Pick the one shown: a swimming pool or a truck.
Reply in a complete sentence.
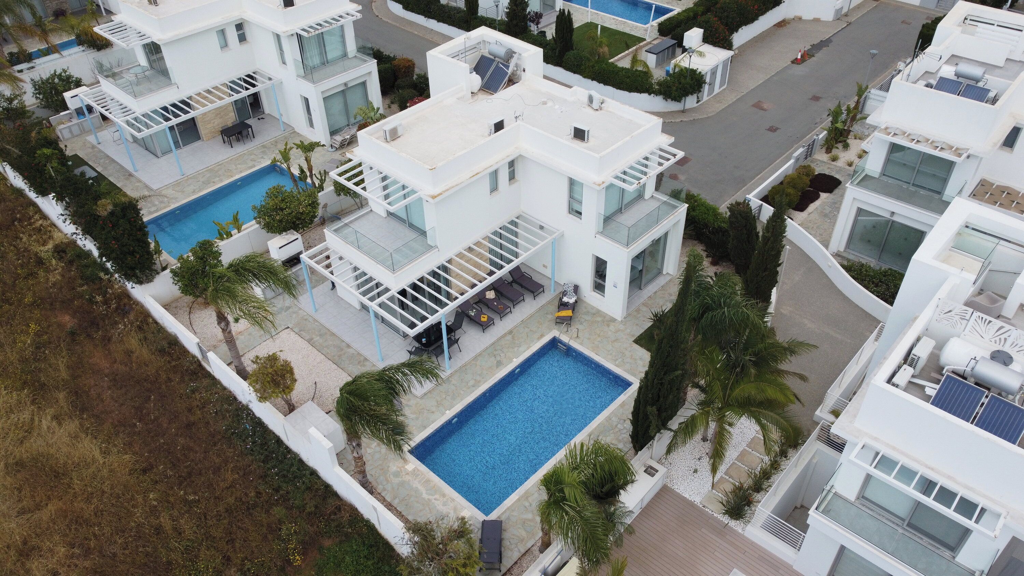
I can see a swimming pool in this picture.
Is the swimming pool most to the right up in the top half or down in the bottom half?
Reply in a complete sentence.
You can find the swimming pool most to the right in the top half.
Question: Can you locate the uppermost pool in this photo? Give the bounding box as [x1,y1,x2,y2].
[571,0,675,27]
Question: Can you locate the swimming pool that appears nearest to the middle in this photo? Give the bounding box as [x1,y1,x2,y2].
[398,319,638,525]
